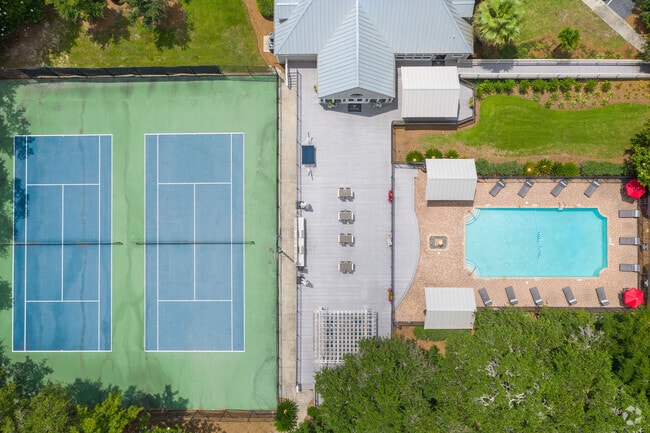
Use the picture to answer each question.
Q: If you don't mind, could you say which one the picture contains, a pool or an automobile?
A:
pool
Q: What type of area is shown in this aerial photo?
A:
sports ground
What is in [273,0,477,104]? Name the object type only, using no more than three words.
building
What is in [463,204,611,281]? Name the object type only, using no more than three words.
swimming pool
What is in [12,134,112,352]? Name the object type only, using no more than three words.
tennis court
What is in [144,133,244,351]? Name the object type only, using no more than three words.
tennis court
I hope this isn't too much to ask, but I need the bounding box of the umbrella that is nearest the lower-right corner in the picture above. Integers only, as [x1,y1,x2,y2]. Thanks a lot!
[618,287,642,309]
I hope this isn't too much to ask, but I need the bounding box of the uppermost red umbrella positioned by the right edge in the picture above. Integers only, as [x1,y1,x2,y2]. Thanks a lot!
[620,180,645,200]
